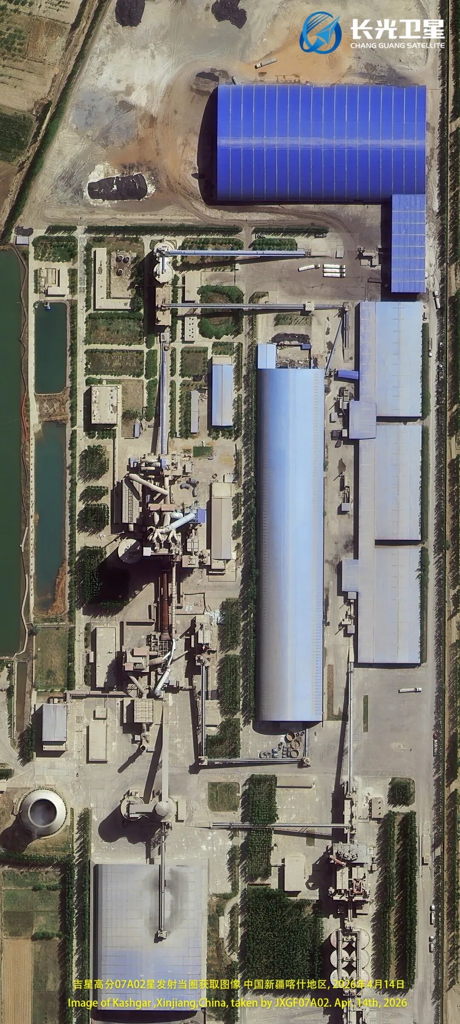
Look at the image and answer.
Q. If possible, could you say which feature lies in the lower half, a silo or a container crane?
silo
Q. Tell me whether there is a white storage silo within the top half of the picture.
Yes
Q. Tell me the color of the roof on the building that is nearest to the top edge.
blue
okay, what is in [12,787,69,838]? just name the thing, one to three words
cooling tower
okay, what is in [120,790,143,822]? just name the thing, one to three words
silo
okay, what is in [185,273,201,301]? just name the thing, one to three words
building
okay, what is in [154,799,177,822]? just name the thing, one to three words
silo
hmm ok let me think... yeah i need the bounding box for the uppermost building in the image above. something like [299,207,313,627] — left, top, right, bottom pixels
[218,85,426,201]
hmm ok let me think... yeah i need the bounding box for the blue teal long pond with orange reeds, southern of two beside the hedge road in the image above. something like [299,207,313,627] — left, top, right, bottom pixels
[35,423,66,612]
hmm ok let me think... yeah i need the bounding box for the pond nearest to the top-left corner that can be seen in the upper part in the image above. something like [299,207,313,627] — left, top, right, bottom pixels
[34,302,67,393]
